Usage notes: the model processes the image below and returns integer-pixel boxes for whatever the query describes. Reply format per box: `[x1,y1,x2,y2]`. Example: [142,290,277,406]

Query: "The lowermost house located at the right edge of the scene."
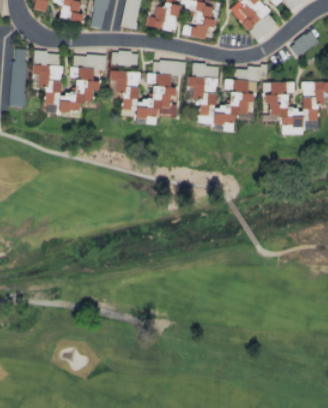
[262,80,322,127]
